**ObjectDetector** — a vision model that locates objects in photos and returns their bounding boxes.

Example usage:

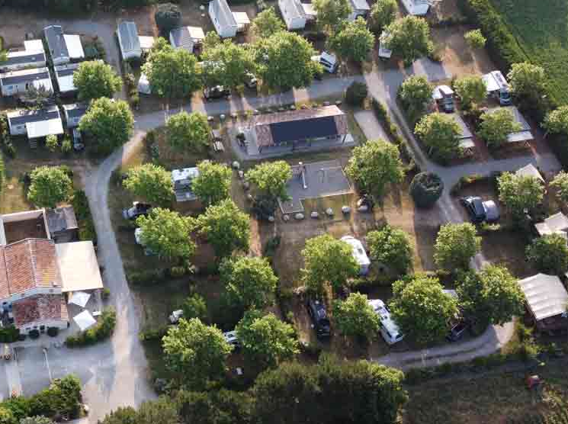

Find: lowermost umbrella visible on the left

[69,308,100,335]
